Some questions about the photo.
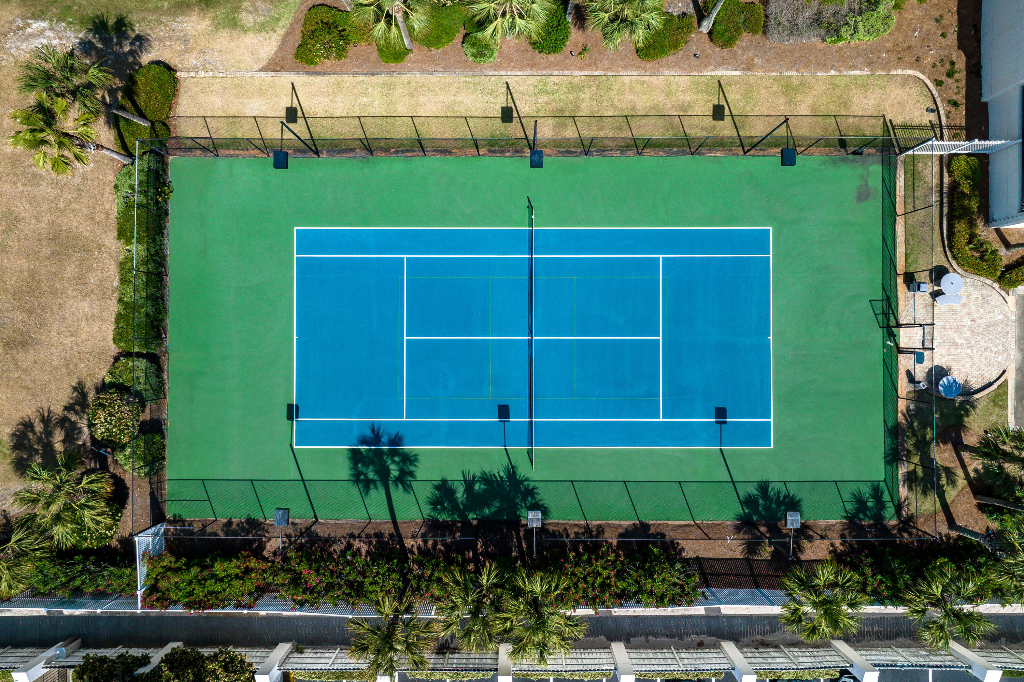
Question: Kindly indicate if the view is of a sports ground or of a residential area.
sports ground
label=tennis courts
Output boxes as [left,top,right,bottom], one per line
[166,155,898,521]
